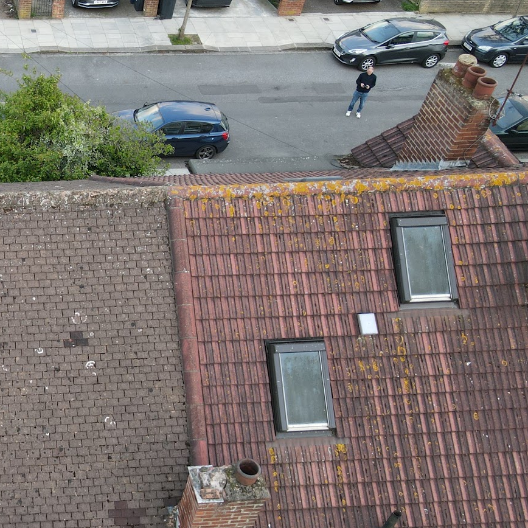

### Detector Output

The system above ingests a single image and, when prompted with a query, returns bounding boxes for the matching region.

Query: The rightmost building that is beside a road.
[98,54,528,528]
